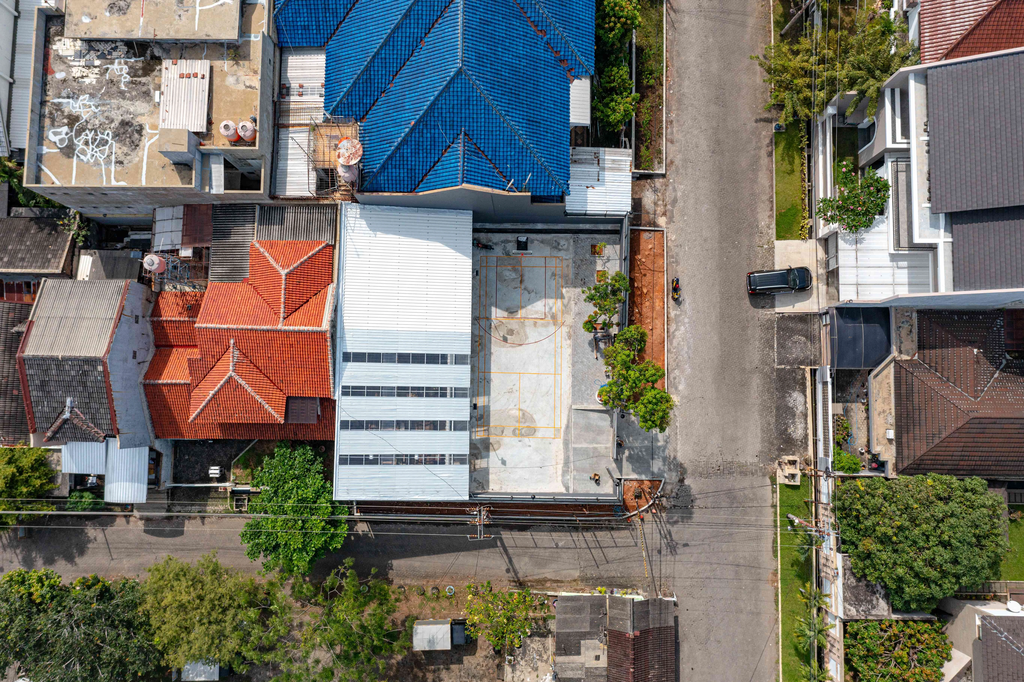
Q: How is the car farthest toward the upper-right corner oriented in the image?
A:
horizontally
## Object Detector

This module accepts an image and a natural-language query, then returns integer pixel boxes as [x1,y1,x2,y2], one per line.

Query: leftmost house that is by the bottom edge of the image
[555,580,675,682]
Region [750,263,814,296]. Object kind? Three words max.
car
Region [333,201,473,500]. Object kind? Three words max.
building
